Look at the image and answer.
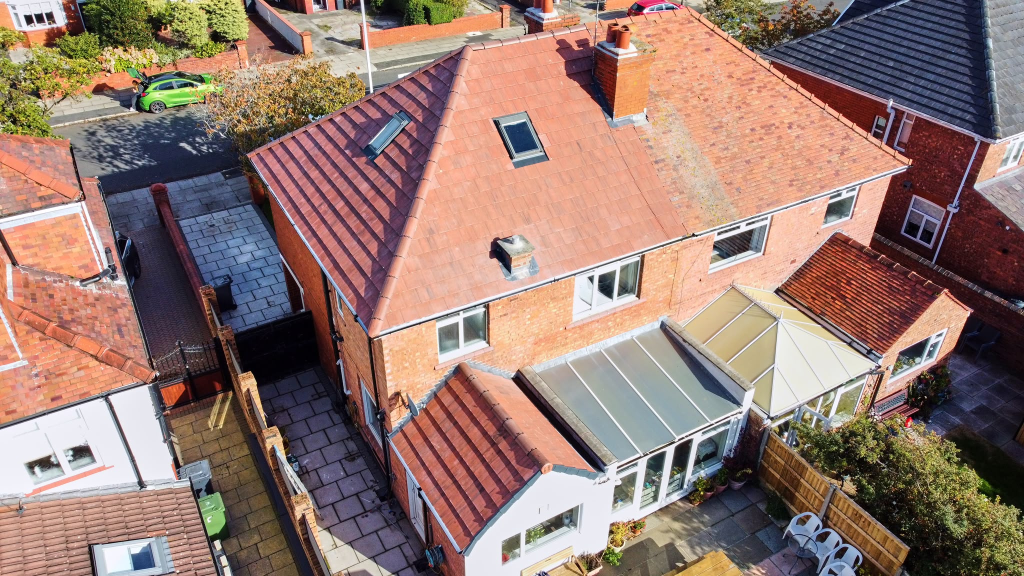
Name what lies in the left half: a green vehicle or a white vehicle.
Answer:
green vehicle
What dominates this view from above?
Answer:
buildings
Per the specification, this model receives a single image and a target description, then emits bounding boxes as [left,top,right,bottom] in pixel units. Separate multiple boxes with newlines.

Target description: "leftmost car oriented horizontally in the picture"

[119,67,215,115]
